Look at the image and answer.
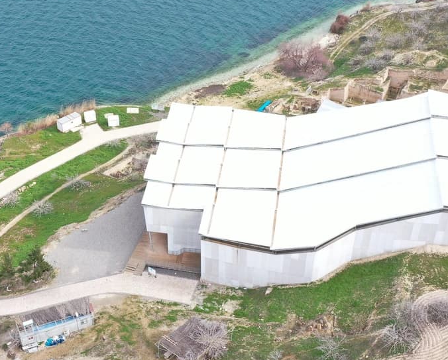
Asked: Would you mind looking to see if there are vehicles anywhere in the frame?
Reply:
No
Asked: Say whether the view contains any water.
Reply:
Yes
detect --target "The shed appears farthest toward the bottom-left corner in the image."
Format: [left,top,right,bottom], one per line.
[10,293,93,352]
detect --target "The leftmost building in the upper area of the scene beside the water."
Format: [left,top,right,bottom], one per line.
[58,110,82,132]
